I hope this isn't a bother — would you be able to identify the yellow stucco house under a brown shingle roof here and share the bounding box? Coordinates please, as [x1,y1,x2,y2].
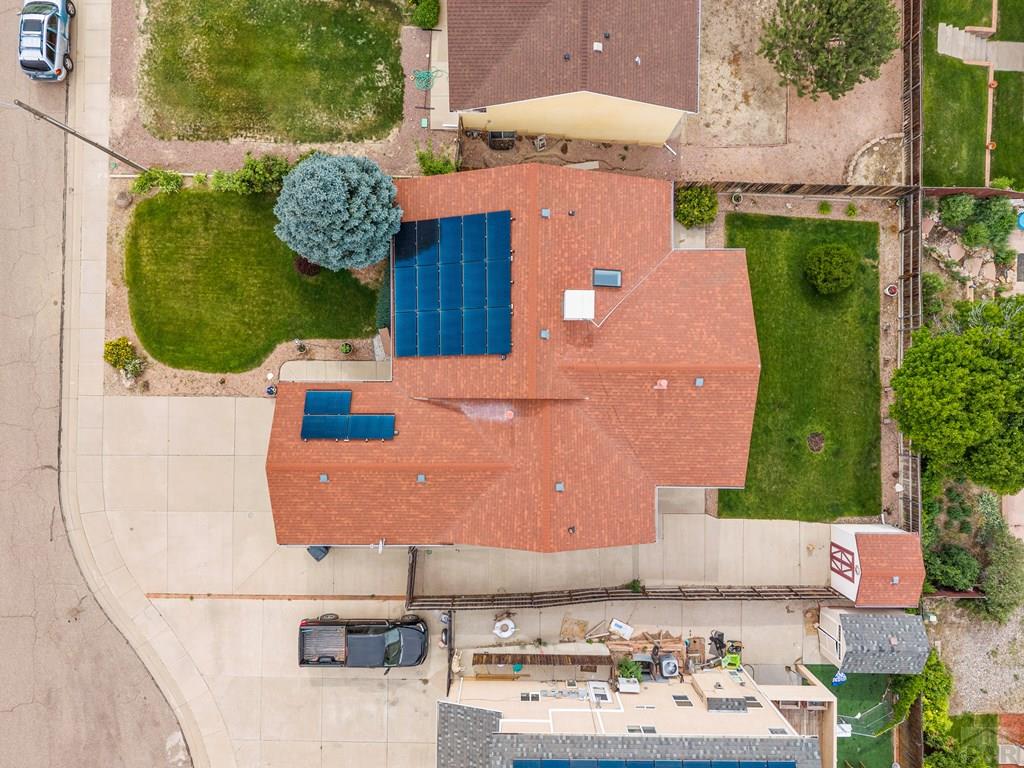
[446,0,699,155]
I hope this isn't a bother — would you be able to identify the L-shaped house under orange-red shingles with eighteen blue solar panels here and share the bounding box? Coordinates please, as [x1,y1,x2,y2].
[267,164,760,551]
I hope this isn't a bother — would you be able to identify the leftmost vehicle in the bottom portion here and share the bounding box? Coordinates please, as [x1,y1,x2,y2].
[297,614,429,675]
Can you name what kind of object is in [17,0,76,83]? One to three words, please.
car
